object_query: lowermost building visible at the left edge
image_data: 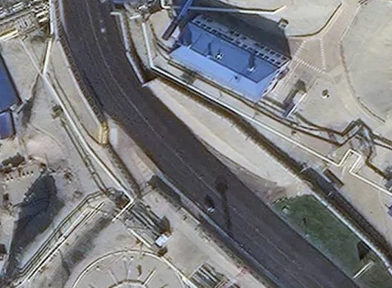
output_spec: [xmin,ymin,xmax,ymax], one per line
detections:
[0,110,16,138]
